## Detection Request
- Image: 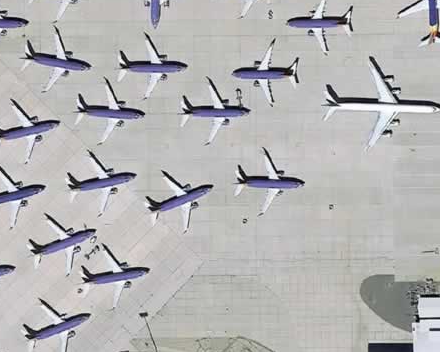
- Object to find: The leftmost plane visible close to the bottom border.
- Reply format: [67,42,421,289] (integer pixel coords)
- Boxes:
[21,301,91,352]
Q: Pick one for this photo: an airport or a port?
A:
airport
